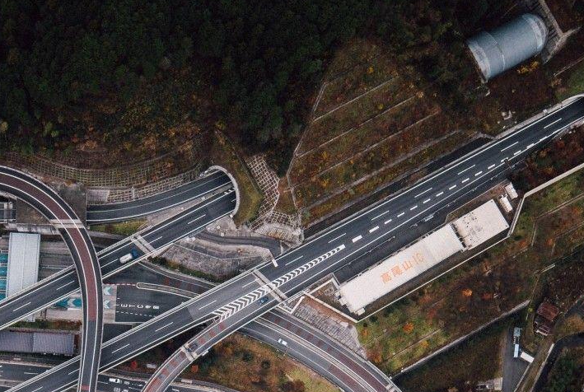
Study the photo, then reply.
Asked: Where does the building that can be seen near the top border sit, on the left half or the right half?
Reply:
right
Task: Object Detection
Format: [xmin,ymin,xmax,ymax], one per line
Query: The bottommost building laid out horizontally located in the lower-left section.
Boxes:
[0,329,80,357]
